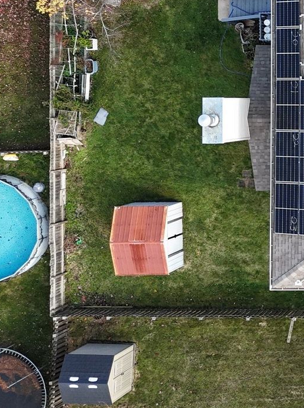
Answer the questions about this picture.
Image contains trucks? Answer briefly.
No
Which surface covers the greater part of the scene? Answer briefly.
grass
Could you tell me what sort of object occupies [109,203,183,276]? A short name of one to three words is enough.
shed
